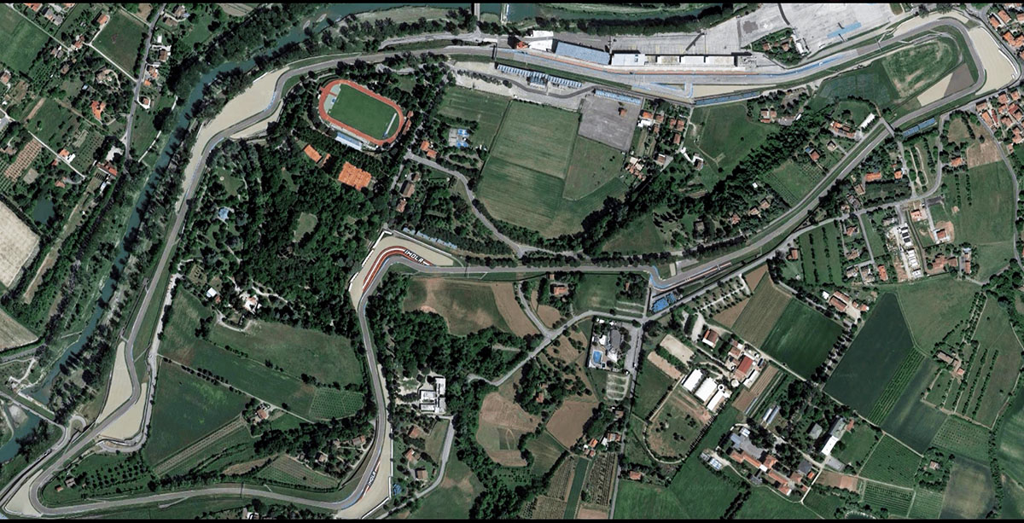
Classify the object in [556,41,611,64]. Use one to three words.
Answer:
building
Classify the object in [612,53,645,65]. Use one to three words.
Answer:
building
